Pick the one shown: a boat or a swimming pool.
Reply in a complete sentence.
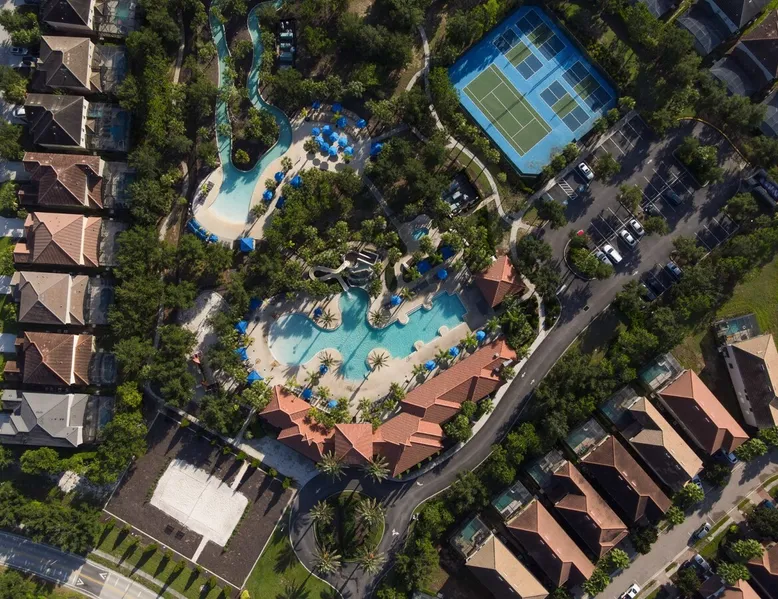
The image shows a swimming pool.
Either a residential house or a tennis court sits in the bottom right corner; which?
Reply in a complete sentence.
The feature located in the bottom right corner is a residential house.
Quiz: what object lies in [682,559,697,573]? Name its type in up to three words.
car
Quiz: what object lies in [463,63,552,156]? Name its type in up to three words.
tennis court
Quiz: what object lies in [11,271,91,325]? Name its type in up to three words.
house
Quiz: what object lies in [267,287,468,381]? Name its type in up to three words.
swimming pool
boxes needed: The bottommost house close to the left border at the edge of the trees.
[0,390,90,448]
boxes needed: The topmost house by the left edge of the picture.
[39,0,106,33]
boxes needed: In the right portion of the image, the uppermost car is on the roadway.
[577,163,594,180]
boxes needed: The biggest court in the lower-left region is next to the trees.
[103,412,295,591]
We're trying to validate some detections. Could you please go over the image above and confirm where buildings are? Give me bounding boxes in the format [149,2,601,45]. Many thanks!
[4,331,96,385]
[14,212,104,266]
[39,0,106,33]
[578,433,672,529]
[653,370,748,463]
[701,572,760,599]
[11,271,91,325]
[264,340,520,477]
[504,495,595,593]
[33,36,103,93]
[19,152,109,208]
[723,4,778,83]
[0,390,90,448]
[24,94,97,149]
[614,397,704,495]
[723,334,778,431]
[735,521,778,588]
[476,257,525,306]
[539,458,628,559]
[464,529,552,599]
